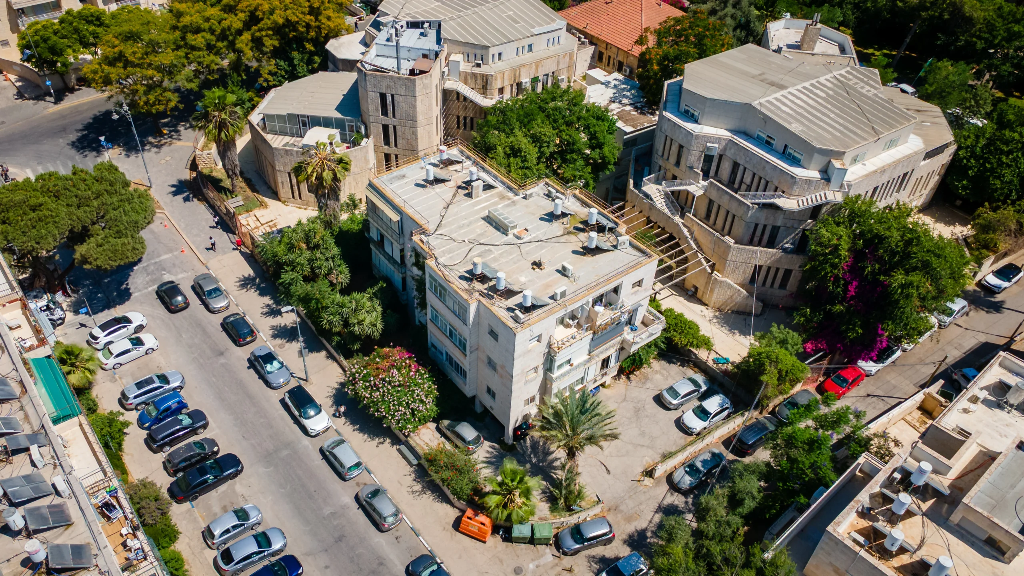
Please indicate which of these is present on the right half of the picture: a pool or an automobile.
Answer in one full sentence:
Visible on the right half of the picture is an automobile.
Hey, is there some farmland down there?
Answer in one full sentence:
No, farmland can't be seen anywhere here.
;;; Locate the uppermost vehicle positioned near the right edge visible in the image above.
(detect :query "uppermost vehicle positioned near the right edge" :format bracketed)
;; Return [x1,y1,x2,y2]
[985,258,1024,291]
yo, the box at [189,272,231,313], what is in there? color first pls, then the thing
gray car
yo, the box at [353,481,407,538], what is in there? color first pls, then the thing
gray car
